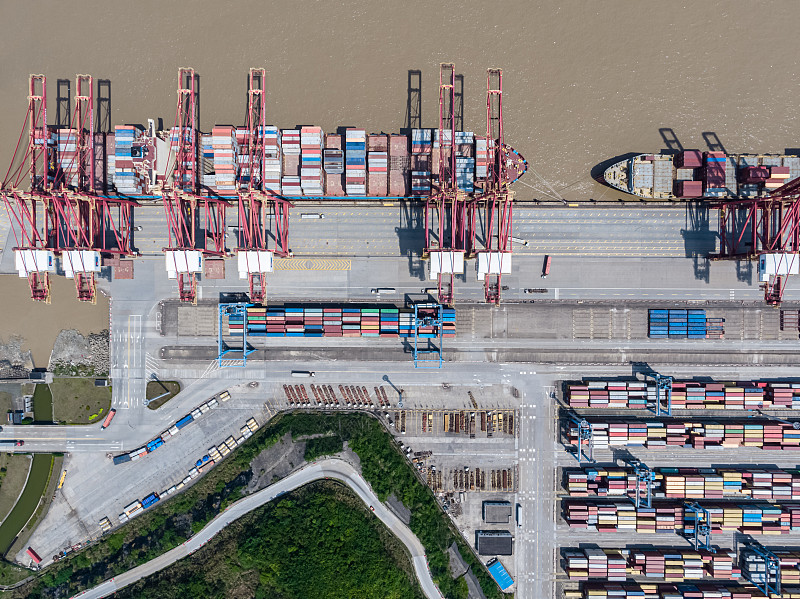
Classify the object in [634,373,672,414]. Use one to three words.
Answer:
container crane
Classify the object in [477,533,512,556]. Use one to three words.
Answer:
building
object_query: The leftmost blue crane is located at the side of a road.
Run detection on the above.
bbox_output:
[218,302,259,368]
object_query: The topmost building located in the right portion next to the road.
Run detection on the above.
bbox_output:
[482,501,512,523]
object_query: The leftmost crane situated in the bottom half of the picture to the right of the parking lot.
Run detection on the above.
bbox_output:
[562,414,593,461]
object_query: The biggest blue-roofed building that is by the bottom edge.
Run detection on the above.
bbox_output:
[488,558,514,591]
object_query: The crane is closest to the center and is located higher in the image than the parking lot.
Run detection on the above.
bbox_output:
[409,302,445,368]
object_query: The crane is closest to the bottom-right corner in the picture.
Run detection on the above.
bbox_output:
[735,537,781,594]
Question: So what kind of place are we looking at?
port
